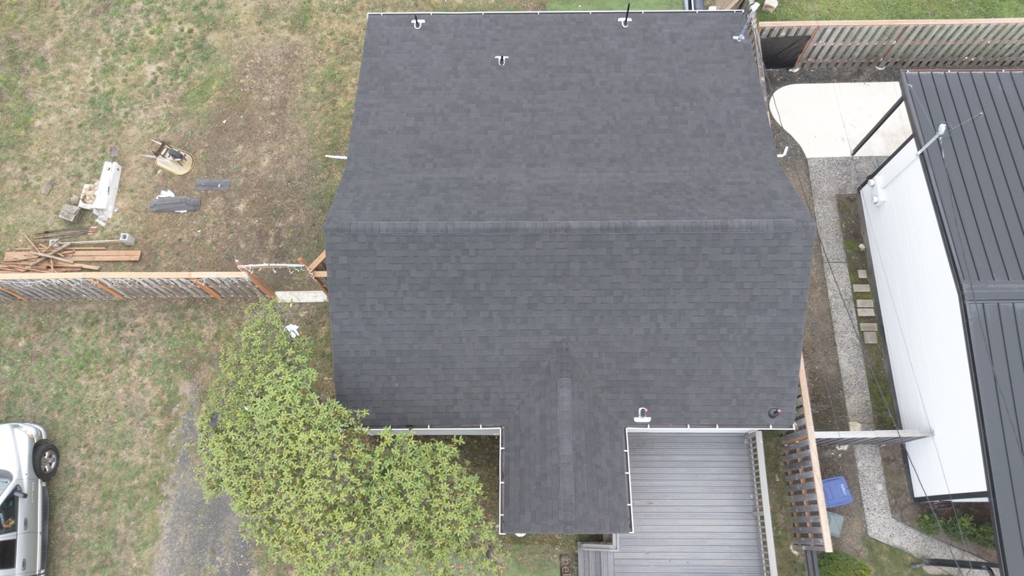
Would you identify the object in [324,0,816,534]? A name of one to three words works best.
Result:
house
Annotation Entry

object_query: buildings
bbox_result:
[850,66,1024,576]
[324,0,816,534]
